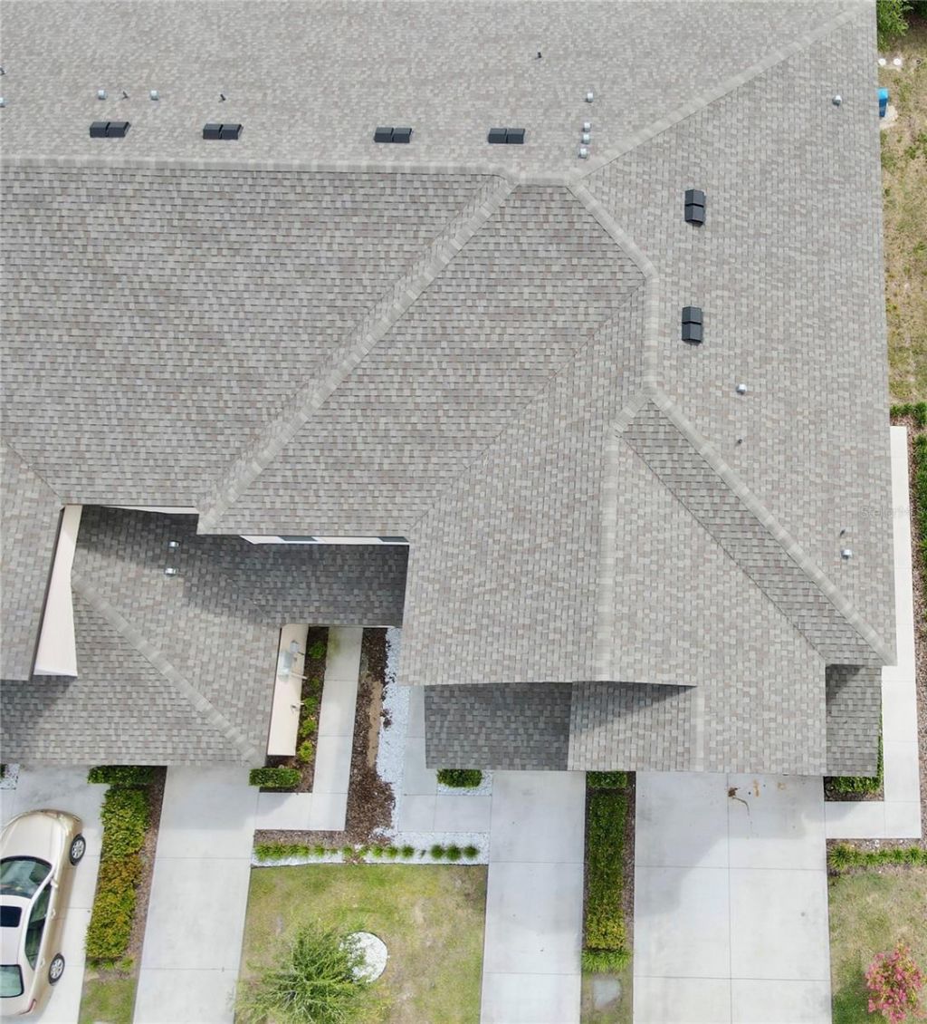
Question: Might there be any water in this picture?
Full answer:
No, the picture contains no water.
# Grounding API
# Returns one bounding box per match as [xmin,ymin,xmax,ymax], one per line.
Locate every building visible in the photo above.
[0,0,896,776]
